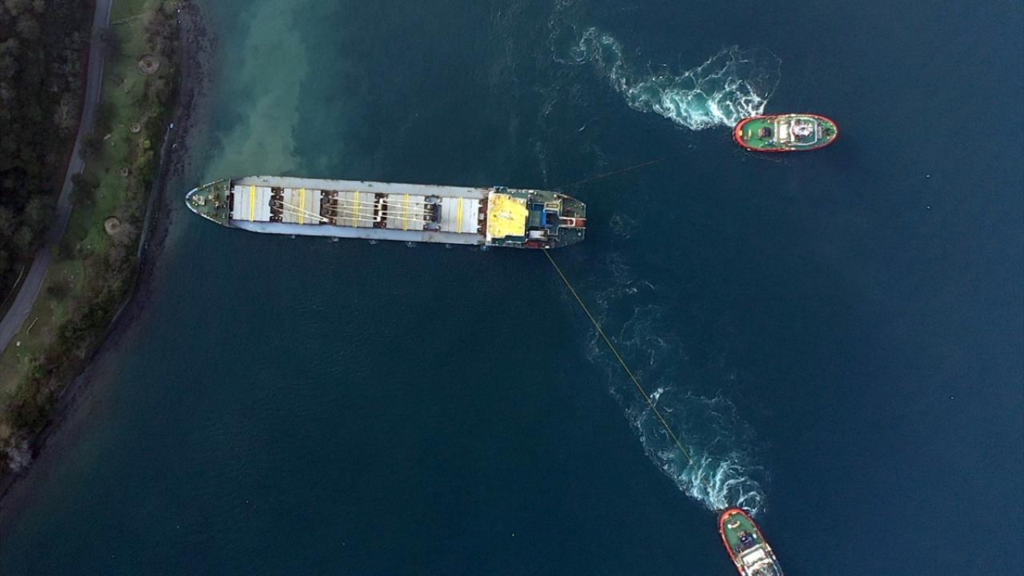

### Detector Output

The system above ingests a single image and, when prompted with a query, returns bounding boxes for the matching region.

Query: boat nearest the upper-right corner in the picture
[731,113,841,153]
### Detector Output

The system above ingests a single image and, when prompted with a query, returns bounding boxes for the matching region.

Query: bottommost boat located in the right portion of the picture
[718,504,779,576]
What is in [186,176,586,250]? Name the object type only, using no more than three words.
ship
